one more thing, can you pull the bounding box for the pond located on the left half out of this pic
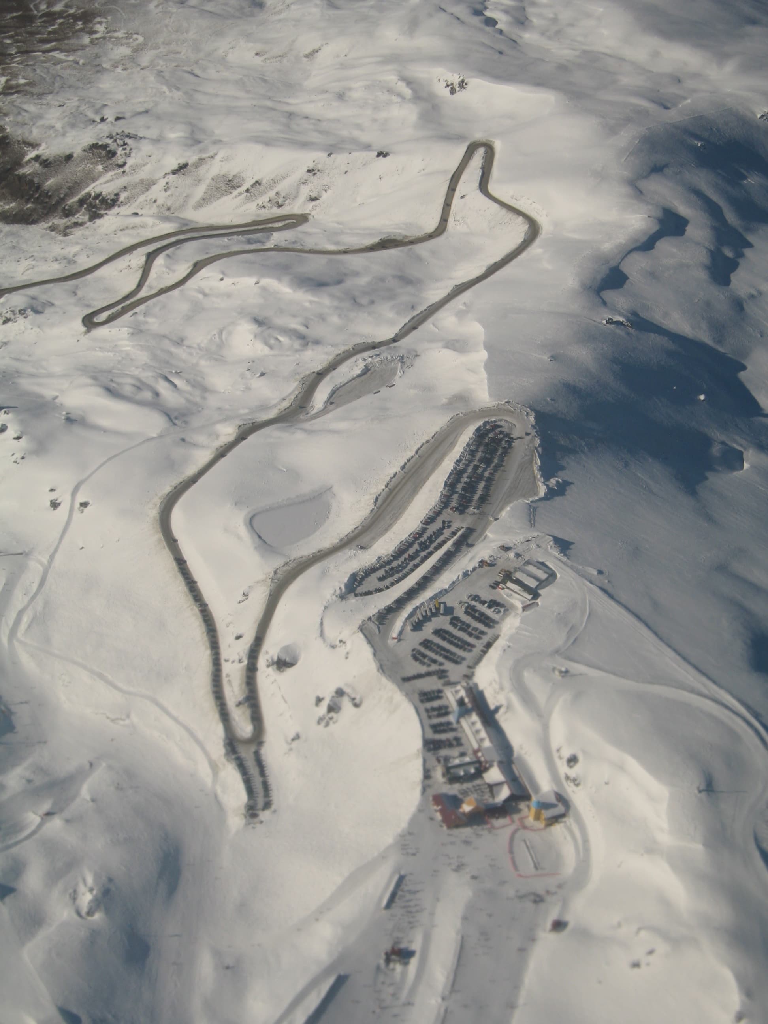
[250,495,330,547]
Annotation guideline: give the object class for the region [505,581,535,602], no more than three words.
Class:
shed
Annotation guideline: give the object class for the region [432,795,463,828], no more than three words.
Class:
house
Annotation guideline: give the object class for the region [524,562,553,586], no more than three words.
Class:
shed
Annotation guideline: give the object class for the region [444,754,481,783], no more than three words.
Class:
building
